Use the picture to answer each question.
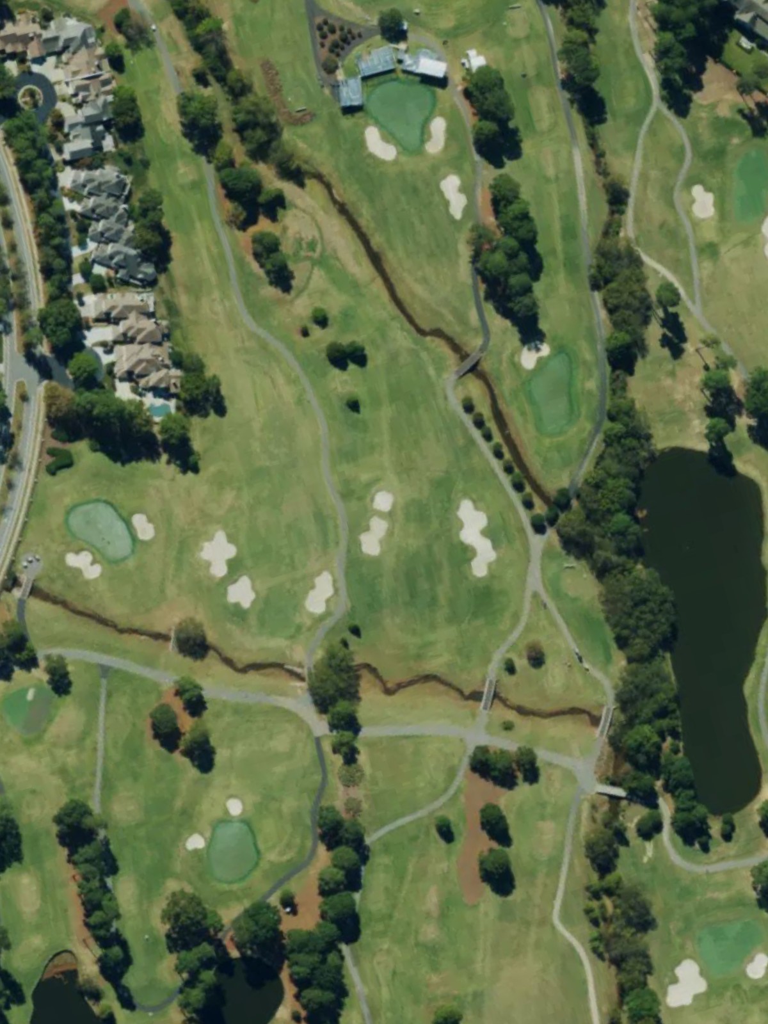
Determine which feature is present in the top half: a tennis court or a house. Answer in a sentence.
What appears in the top half is a house.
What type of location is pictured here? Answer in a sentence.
The area seen from above is a golf course.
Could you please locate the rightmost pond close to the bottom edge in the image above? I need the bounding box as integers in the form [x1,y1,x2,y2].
[195,953,284,1024]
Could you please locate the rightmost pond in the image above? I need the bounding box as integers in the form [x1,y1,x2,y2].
[641,447,768,816]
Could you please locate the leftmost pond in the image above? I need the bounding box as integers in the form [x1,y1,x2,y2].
[23,968,102,1024]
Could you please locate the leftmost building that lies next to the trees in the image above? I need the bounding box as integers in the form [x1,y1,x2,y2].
[0,14,47,59]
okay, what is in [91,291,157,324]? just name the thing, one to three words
house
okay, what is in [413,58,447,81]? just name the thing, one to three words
building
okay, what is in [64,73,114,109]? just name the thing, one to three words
house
